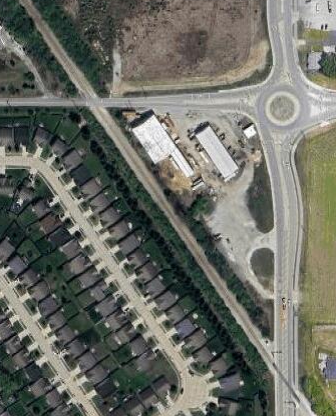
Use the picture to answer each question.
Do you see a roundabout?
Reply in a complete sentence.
Yes, this view includes a roundabout.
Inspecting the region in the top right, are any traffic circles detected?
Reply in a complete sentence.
Yes, the scene does show a traffic circle in the top right.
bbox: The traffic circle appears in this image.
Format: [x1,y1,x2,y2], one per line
[220,61,327,158]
